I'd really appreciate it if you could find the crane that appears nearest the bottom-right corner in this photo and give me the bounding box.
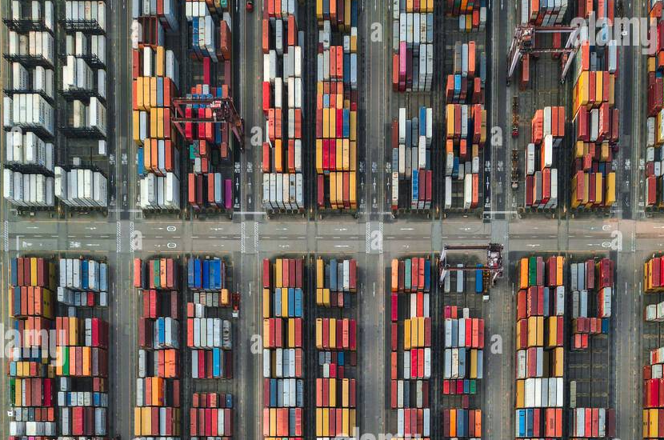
[437,246,506,285]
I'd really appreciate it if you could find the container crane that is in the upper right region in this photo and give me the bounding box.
[506,26,578,80]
